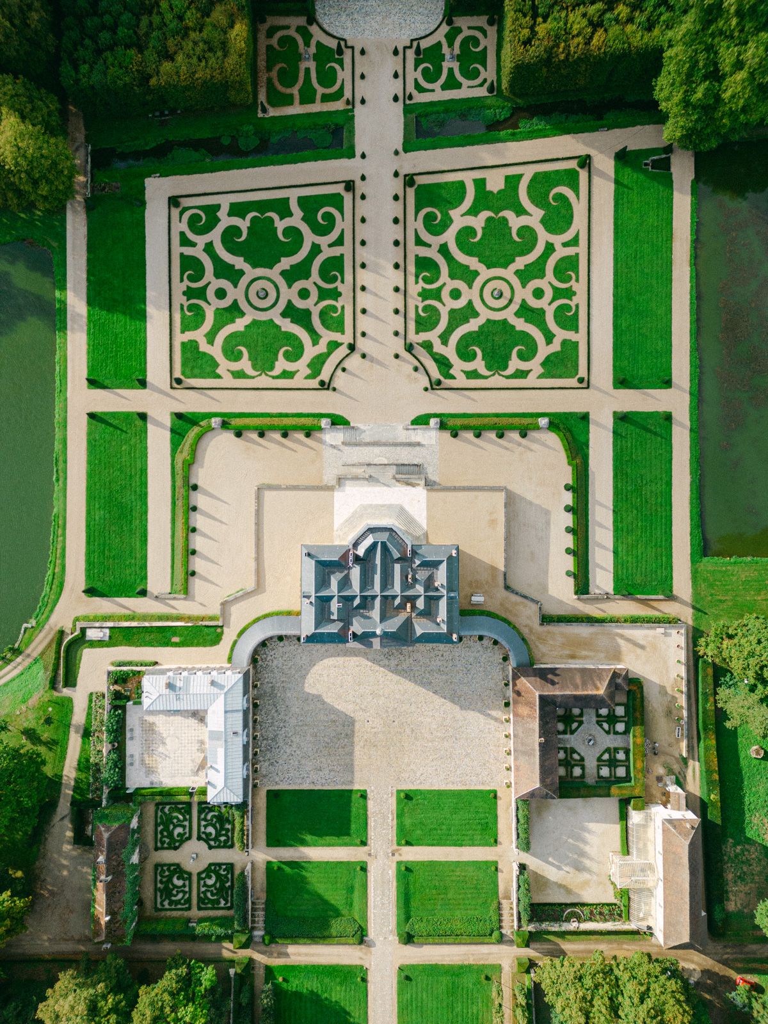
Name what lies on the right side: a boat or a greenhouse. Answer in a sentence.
The feature located on the right side is a greenhouse.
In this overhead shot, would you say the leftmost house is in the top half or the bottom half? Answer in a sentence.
You can find the leftmost house in the bottom half.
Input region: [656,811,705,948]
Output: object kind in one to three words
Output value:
barn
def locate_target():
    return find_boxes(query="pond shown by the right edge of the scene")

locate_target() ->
[695,143,768,555]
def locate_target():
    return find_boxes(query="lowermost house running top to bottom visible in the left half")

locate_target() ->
[88,800,142,948]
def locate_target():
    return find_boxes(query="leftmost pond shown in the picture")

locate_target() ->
[0,239,56,645]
